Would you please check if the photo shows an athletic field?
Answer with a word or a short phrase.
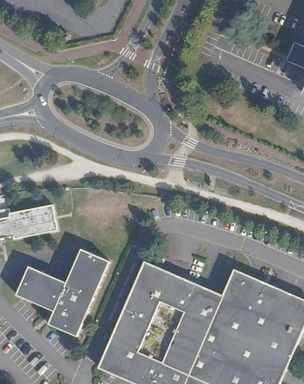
No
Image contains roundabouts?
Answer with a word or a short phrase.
Yes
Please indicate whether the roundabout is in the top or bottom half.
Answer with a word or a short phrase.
top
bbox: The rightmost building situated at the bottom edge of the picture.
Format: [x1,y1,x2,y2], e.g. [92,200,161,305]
[98,262,304,384]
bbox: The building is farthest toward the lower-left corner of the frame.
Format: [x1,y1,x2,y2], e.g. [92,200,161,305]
[16,250,109,336]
